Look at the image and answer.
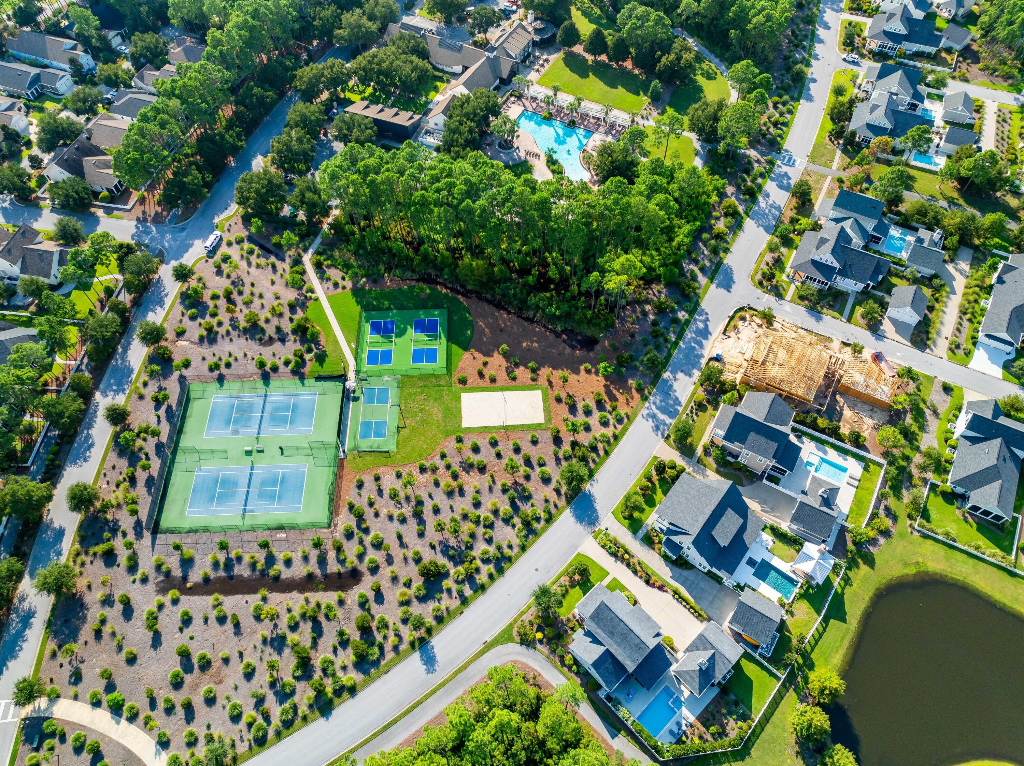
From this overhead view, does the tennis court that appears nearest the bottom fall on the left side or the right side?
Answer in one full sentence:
The tennis court that appears nearest the bottom sits on the left side.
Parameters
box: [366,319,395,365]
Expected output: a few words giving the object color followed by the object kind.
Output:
blue sports court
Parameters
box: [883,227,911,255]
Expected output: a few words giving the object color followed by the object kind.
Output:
blue swimming pool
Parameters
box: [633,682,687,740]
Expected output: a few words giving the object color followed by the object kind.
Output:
blue swimming pool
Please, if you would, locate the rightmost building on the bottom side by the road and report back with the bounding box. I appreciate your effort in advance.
[949,399,1024,524]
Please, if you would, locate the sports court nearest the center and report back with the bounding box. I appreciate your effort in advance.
[461,390,544,427]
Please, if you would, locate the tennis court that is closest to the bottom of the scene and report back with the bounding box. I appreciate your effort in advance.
[185,460,308,517]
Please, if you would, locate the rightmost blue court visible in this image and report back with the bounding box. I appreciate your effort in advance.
[411,318,440,364]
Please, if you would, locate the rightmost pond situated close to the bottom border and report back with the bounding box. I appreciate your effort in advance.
[815,580,1024,766]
